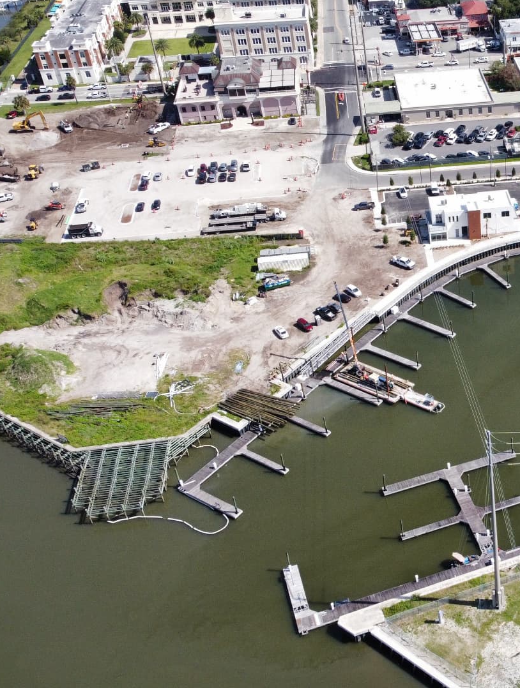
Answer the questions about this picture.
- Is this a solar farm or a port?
port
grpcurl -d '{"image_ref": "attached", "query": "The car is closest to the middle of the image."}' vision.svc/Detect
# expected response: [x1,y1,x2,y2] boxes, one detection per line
[272,322,290,337]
